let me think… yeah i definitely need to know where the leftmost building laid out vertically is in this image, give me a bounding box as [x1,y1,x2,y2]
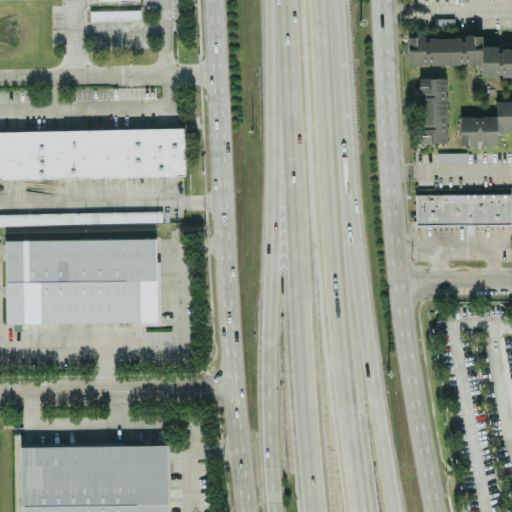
[420,78,448,145]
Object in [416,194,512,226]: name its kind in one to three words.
building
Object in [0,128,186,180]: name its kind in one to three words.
building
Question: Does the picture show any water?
No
